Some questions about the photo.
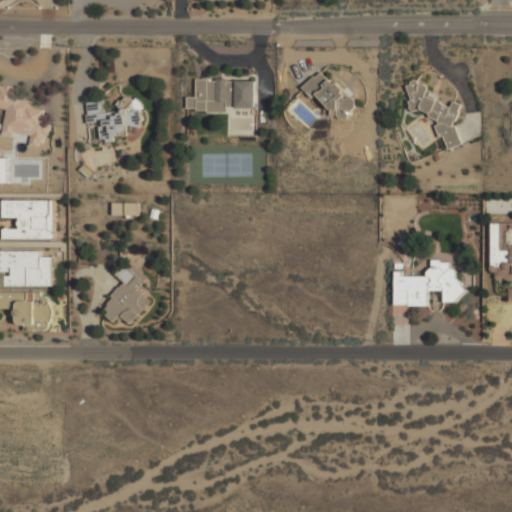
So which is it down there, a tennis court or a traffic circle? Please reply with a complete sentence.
There is a tennis court in the scene.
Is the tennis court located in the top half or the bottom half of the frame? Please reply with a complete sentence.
Seen from above, the tennis court lies in the top half of the view.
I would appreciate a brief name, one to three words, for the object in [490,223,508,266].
building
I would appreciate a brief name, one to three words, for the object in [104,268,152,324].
house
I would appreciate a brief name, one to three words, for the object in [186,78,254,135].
house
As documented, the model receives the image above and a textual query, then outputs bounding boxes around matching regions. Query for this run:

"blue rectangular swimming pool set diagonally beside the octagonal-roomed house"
[286,98,320,129]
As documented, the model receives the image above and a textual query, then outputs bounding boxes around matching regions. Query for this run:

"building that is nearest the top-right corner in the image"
[405,80,462,148]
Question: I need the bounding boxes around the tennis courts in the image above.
[189,146,266,186]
